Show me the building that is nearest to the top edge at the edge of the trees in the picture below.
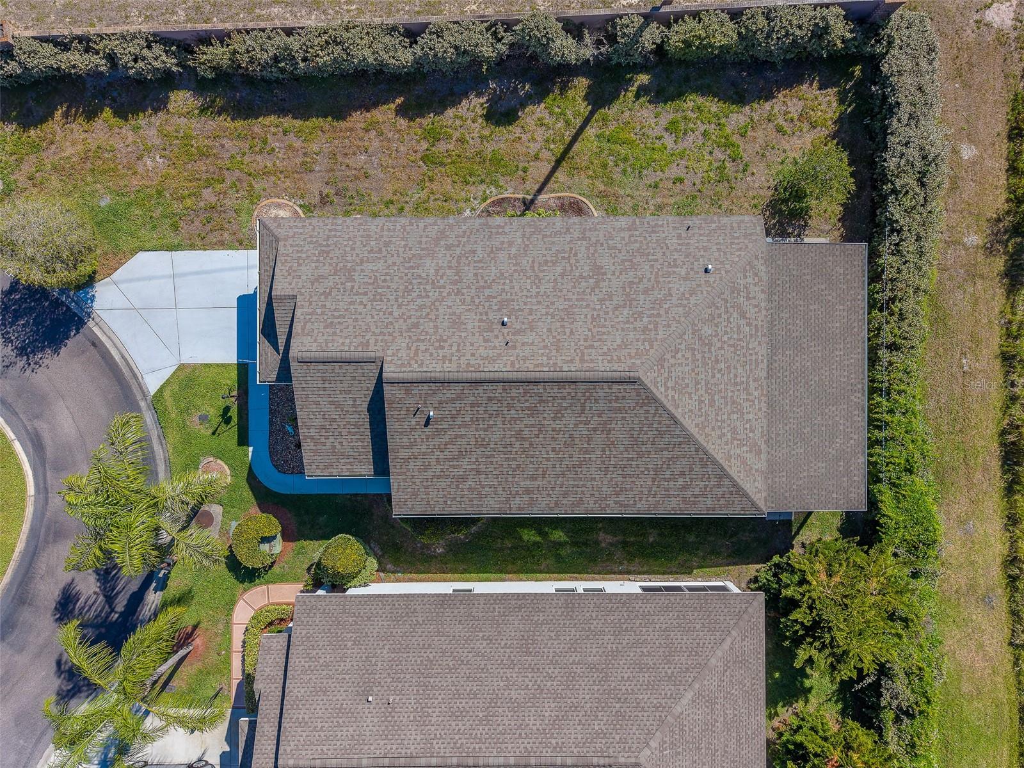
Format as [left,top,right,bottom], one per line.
[257,214,868,517]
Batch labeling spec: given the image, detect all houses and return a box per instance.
[236,582,767,768]
[257,214,868,517]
